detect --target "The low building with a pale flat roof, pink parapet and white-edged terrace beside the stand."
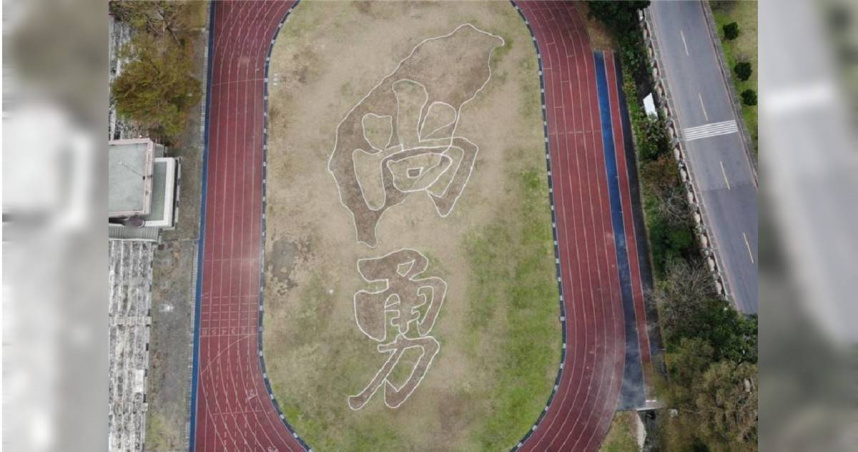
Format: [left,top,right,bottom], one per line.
[12,140,183,245]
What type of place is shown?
sports ground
